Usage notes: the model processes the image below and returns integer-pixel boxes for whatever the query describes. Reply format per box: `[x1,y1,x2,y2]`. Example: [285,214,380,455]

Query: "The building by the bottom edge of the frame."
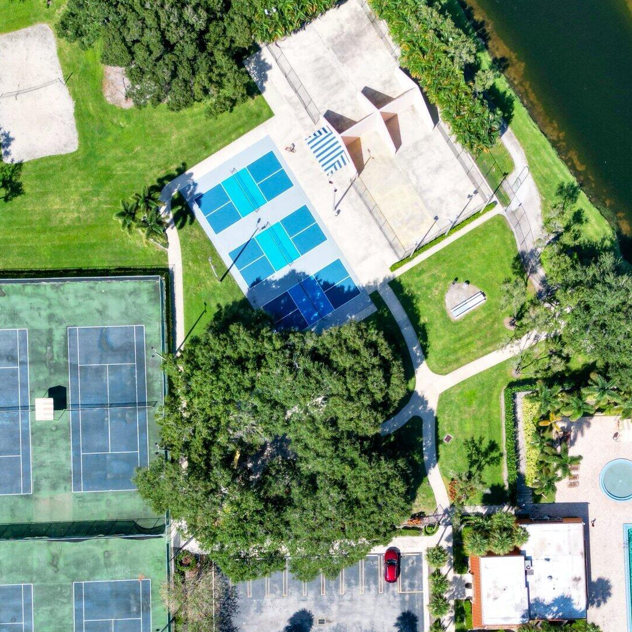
[470,518,587,632]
